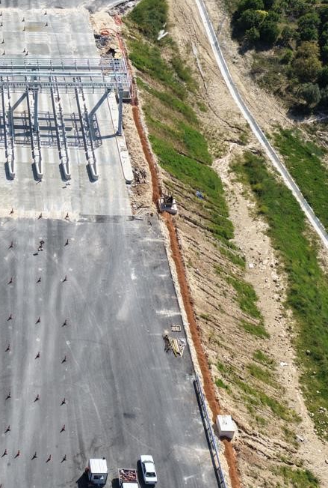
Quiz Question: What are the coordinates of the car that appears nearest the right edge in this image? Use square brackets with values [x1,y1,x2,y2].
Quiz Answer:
[139,452,159,483]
